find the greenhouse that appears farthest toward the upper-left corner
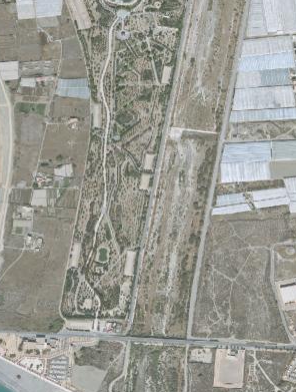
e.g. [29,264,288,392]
[15,0,36,19]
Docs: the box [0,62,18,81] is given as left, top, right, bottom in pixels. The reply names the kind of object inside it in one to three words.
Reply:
greenhouse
